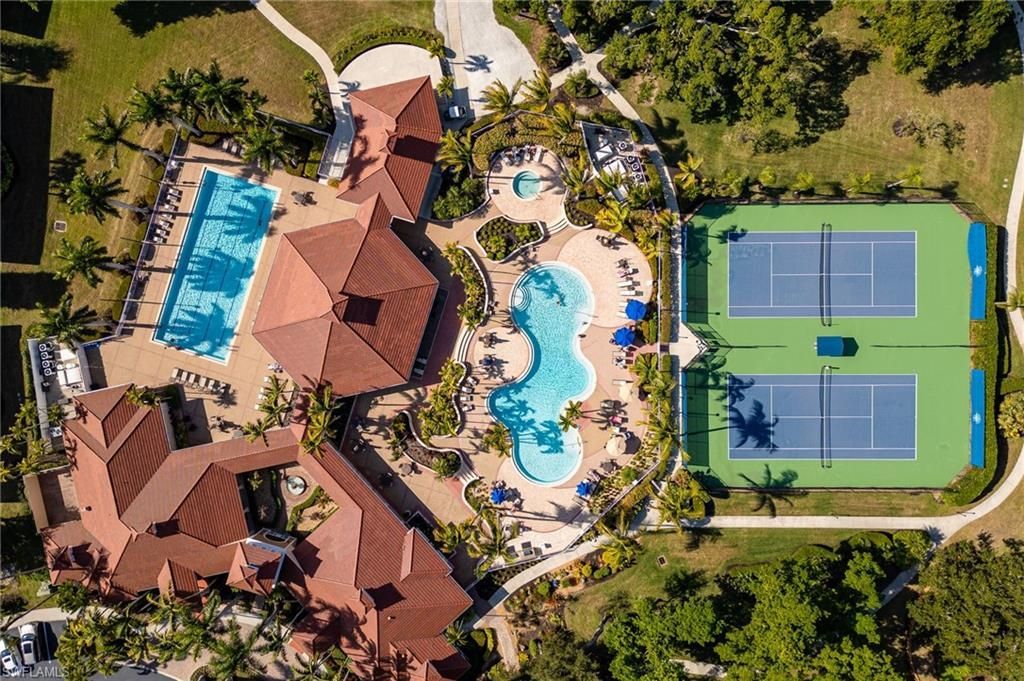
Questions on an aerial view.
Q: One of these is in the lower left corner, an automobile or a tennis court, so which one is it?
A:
automobile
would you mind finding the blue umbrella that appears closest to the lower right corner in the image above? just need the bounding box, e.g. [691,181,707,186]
[575,481,590,496]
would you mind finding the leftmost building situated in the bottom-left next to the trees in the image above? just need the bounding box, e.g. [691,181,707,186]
[39,383,473,681]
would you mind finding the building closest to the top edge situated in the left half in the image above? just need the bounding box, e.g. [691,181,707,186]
[336,74,442,232]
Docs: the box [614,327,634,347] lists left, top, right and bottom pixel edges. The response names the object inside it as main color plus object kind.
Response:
blue umbrella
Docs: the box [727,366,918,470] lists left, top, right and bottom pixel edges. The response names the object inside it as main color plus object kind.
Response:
blue tennis court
